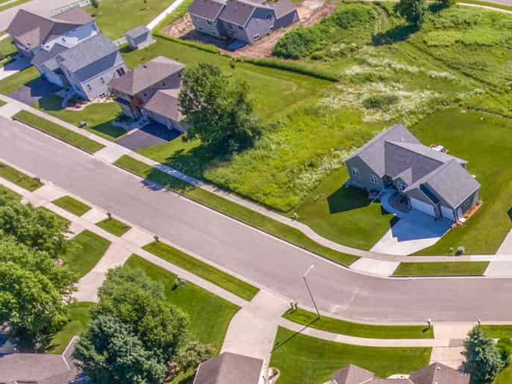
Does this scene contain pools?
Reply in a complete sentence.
No, this view has no pool in it.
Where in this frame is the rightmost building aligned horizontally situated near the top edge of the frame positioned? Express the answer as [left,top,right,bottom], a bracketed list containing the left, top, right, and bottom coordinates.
[189,0,298,52]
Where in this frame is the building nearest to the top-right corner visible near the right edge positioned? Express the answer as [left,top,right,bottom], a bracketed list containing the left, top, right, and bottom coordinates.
[344,117,487,223]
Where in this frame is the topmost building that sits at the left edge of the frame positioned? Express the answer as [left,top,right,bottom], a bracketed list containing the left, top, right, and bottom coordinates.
[0,8,102,65]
